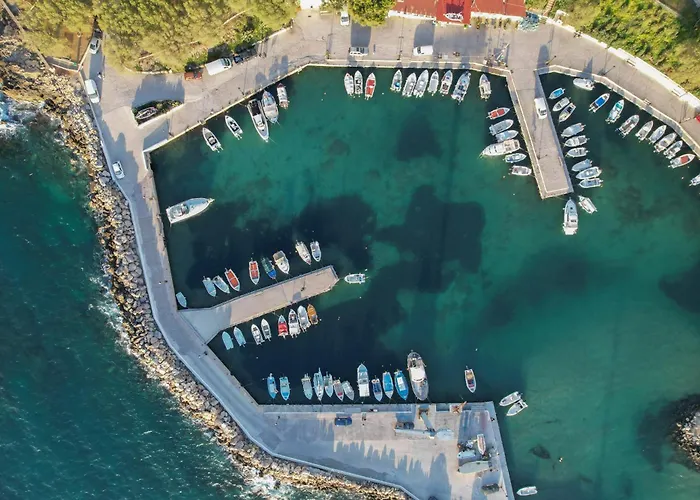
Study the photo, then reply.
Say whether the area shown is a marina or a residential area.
marina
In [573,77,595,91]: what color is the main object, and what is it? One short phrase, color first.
white boat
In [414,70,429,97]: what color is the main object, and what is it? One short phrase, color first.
white boat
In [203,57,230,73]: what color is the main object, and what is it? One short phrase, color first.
white vehicle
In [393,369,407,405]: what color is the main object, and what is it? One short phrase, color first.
blue boat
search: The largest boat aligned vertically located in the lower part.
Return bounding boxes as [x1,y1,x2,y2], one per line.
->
[405,351,430,404]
